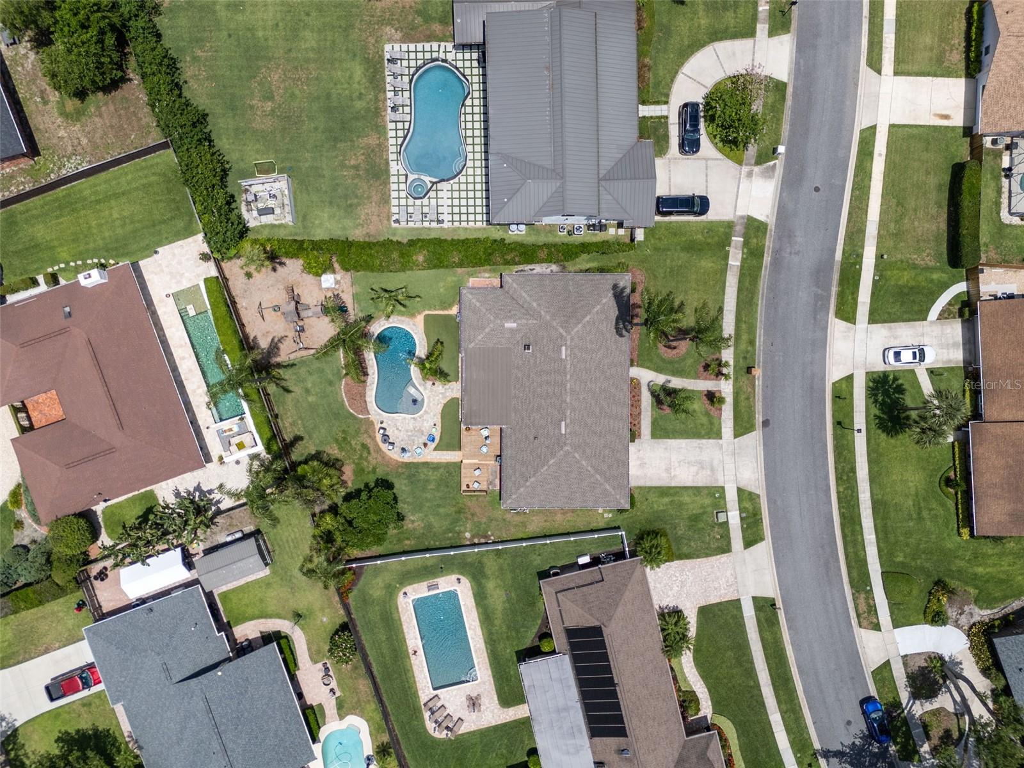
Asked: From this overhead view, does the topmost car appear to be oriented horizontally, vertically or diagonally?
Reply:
vertically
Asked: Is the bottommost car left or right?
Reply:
right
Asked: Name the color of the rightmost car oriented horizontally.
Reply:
white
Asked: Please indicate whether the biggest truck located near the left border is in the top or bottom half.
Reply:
bottom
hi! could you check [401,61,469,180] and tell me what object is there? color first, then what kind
blue swimming pool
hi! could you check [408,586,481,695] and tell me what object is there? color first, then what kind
blue swimming pool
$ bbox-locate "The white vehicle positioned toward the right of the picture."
[883,343,936,367]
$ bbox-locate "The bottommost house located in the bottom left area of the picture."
[81,584,319,768]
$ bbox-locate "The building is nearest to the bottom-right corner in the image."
[988,629,1024,713]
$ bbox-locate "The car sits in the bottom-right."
[858,695,895,747]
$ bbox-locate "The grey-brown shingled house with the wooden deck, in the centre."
[460,273,631,510]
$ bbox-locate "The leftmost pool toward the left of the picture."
[170,282,248,426]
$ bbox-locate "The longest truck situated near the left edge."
[43,663,101,701]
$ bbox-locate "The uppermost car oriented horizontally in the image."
[655,192,709,217]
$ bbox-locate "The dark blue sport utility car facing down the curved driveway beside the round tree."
[679,100,705,156]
